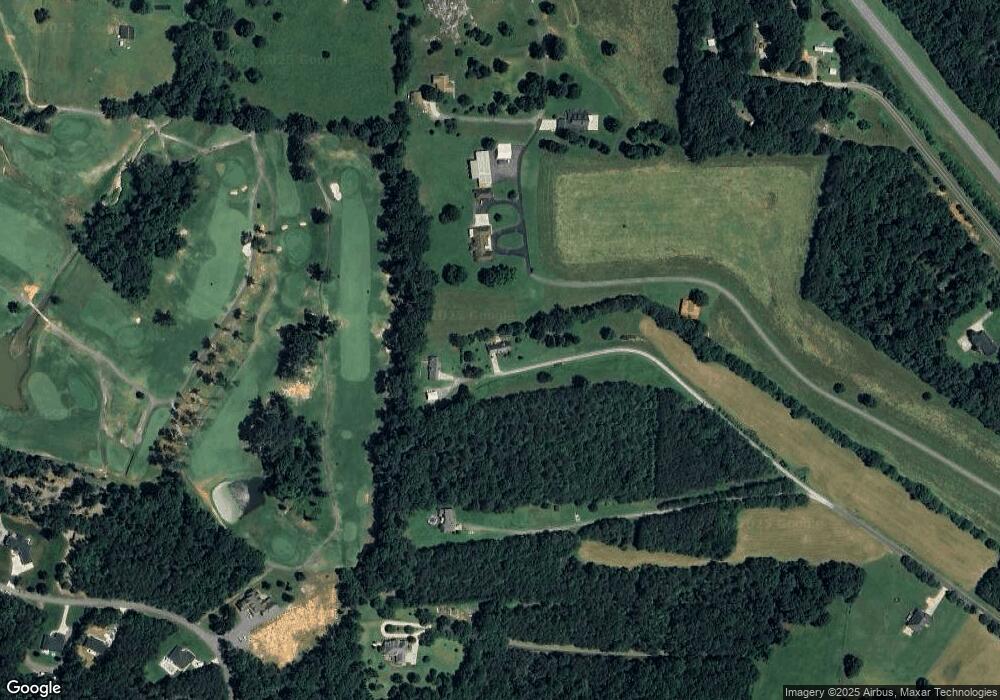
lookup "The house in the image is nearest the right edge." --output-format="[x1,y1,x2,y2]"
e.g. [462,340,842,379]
[971,329,997,354]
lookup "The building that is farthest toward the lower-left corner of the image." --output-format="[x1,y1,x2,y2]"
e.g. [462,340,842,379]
[41,634,64,650]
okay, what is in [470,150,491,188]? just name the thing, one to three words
barn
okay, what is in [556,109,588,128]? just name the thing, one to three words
house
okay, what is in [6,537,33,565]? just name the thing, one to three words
house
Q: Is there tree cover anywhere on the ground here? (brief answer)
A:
Yes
